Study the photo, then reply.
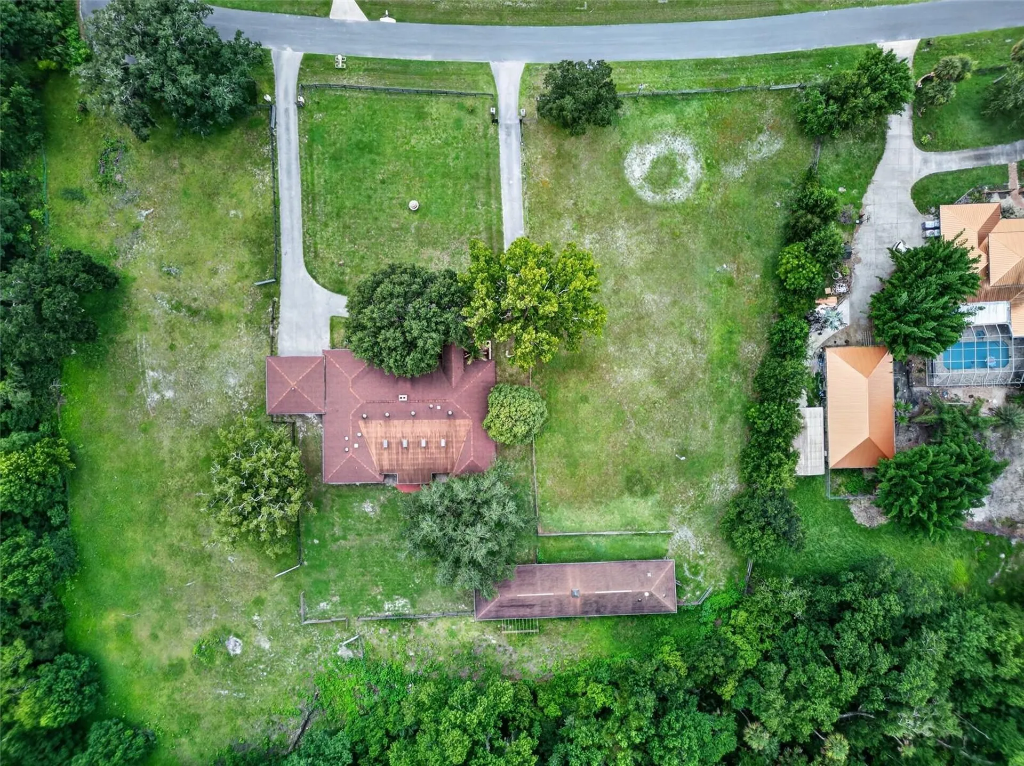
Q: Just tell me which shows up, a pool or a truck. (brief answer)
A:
pool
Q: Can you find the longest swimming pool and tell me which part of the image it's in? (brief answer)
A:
right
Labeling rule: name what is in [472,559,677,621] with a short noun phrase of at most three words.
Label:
building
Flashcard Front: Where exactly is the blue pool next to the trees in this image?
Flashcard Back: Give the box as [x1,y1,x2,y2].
[942,340,1010,370]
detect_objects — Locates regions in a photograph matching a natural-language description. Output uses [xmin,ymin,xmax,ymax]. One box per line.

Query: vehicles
[891,237,914,258]
[919,220,940,231]
[920,229,940,239]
